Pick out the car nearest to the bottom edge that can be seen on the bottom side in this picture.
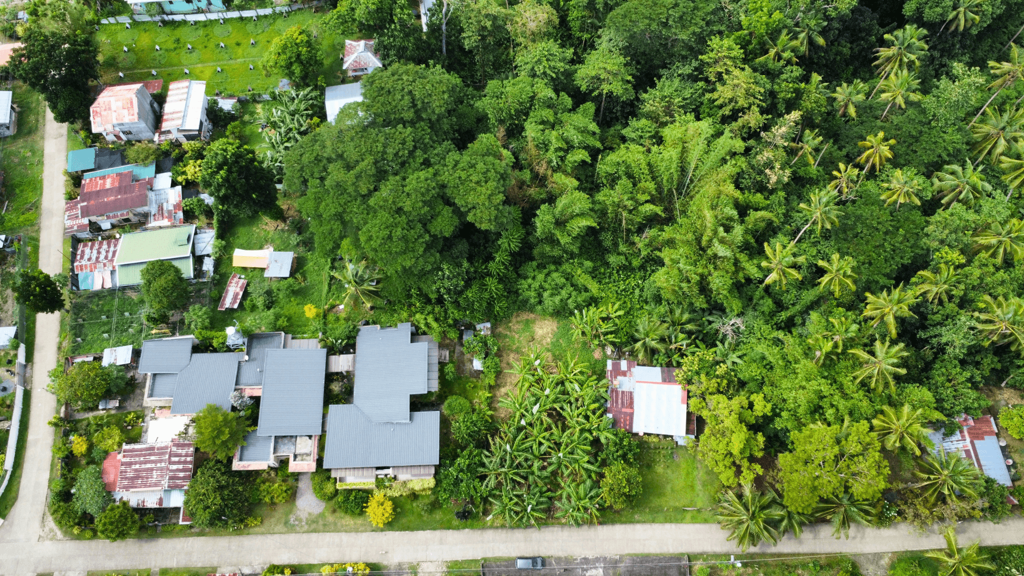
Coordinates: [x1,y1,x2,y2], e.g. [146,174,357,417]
[515,558,543,572]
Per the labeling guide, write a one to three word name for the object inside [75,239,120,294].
building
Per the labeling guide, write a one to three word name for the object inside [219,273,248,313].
shed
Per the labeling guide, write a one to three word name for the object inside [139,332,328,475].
house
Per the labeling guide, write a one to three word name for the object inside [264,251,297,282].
shed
